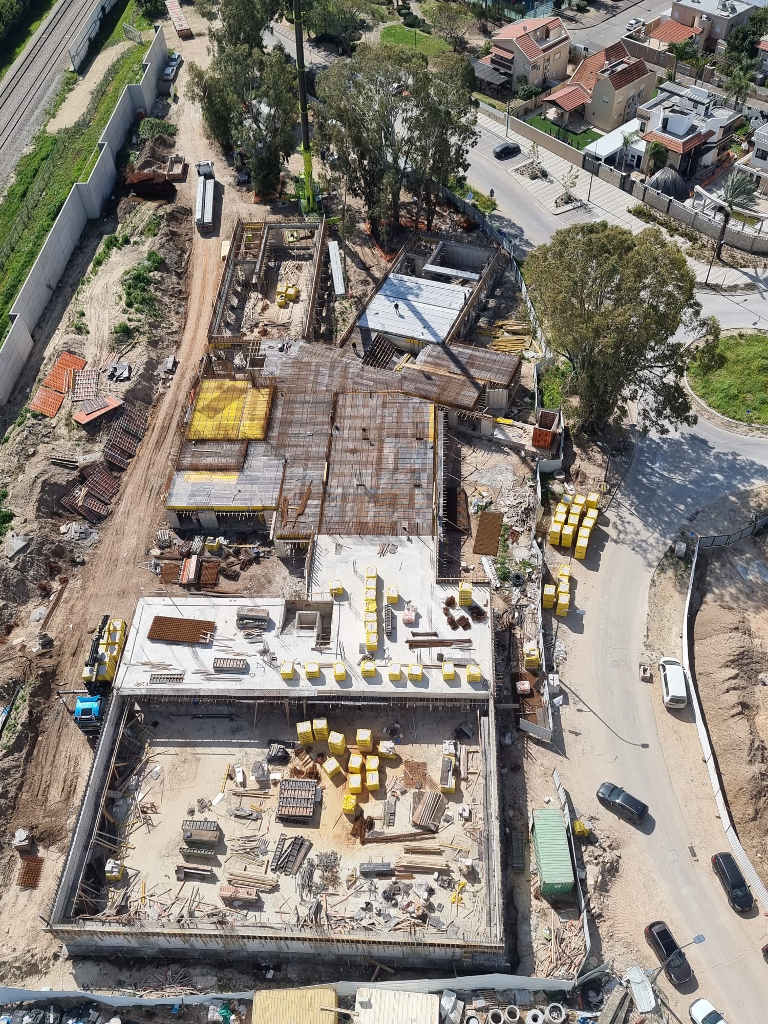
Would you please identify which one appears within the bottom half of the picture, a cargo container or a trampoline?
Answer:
cargo container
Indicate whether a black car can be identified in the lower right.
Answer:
Yes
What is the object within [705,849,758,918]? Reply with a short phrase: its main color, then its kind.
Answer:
black car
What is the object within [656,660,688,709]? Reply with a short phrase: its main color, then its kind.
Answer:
white car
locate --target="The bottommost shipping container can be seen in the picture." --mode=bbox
[530,807,574,894]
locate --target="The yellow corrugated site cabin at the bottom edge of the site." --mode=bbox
[253,988,342,1024]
